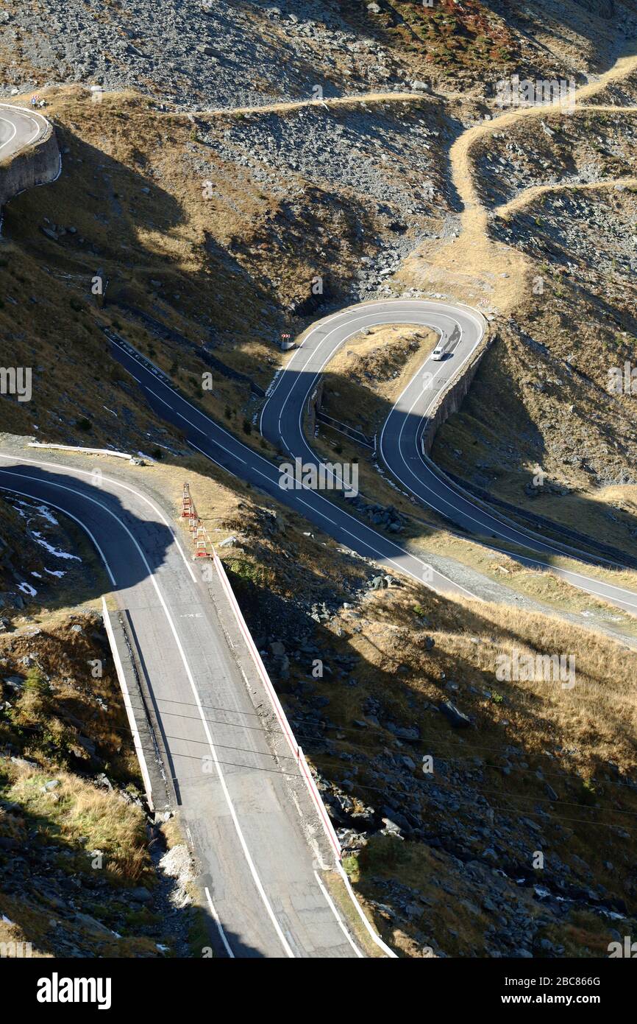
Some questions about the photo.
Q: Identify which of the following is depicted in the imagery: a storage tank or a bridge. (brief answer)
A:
bridge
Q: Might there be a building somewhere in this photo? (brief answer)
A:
No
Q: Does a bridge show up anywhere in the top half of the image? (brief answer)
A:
No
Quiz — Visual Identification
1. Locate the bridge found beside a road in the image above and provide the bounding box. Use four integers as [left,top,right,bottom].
[98,577,340,844]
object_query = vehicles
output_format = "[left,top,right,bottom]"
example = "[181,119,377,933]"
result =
[429,348,446,363]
